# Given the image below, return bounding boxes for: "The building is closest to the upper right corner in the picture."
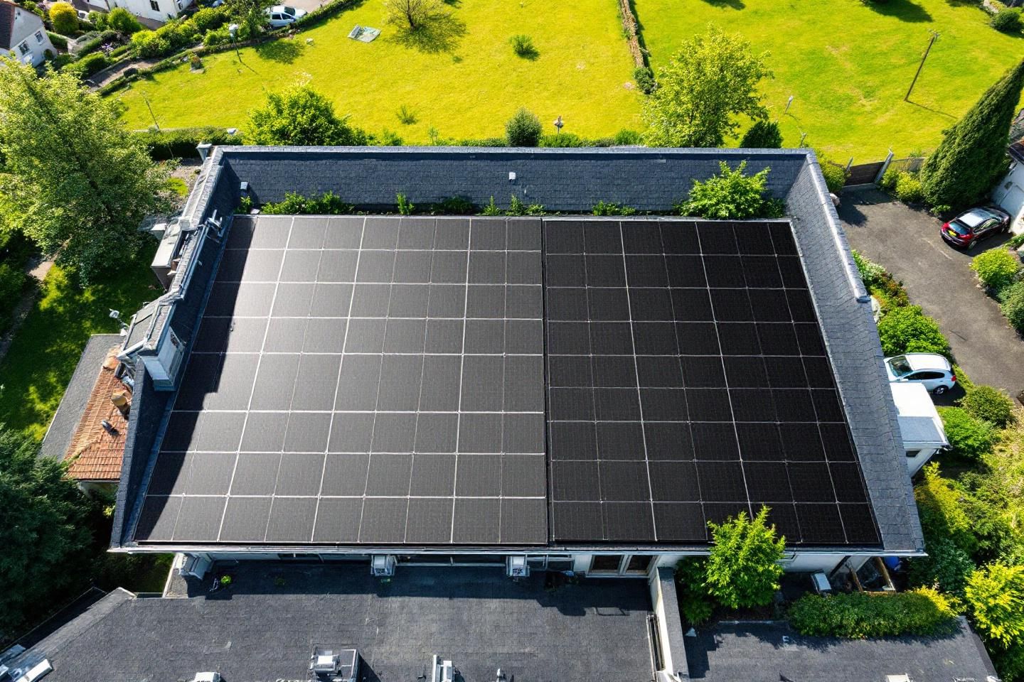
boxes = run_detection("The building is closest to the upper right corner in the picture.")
[991,149,1024,231]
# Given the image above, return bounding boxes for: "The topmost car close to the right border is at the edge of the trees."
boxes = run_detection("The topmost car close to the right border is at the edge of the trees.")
[950,207,1014,242]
